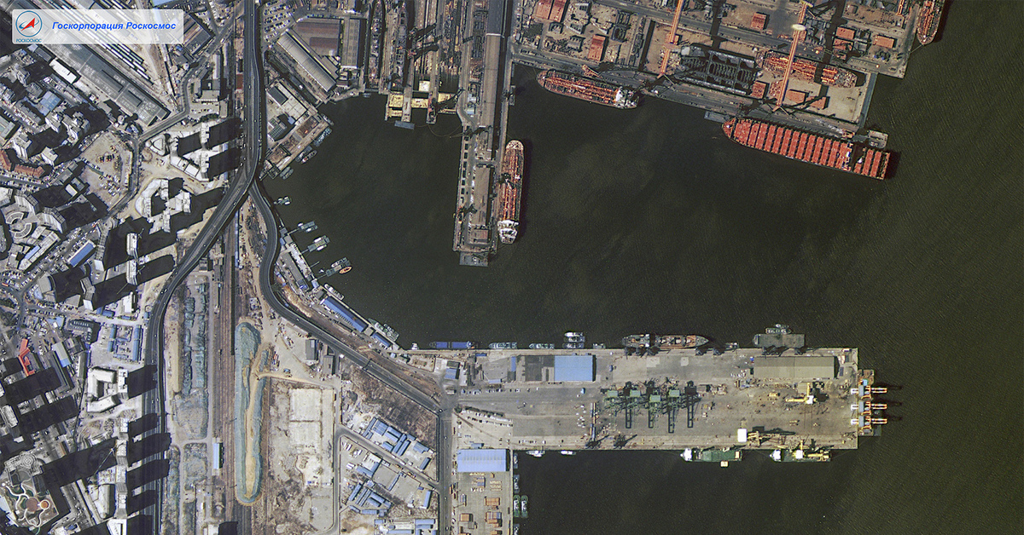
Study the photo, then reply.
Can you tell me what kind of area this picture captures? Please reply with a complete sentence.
This looks like a port.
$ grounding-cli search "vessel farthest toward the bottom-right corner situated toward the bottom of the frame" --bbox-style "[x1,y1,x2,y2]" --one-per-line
[770,439,832,461]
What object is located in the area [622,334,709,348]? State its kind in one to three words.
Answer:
ship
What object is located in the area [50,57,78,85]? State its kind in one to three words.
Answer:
building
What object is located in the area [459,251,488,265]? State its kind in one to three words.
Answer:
pier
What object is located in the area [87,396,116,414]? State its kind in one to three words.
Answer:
building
